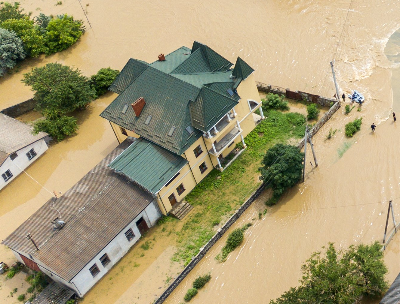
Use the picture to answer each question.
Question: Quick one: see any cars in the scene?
No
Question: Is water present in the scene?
Yes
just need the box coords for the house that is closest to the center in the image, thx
[97,42,273,218]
